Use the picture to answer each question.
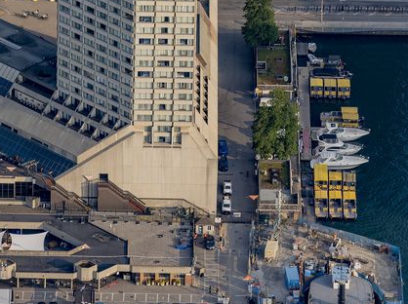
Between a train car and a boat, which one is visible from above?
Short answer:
boat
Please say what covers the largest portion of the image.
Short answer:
buildings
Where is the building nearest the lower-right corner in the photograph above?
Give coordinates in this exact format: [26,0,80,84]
[258,159,301,213]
